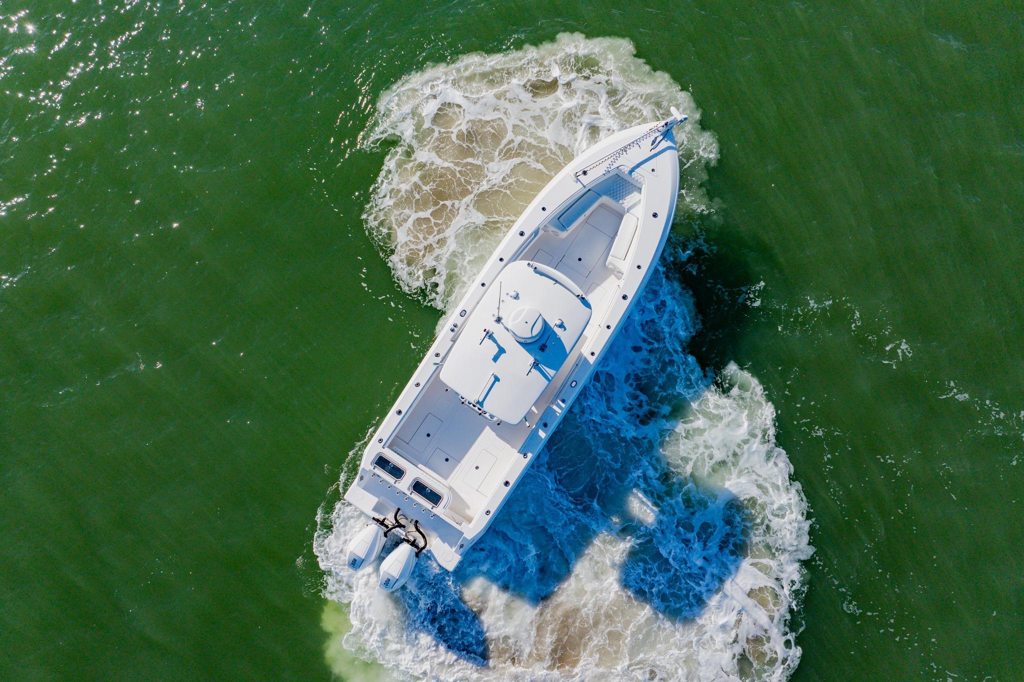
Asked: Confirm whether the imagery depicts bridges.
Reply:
No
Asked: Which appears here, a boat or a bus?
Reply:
boat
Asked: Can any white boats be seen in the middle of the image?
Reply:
Yes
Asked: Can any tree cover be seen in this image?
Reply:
No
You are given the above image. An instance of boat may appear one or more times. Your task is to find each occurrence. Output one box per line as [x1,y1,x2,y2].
[346,108,688,590]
